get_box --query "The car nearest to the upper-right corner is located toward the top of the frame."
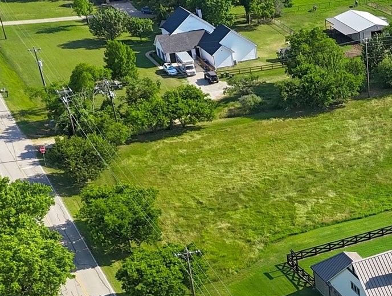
[204,71,219,83]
